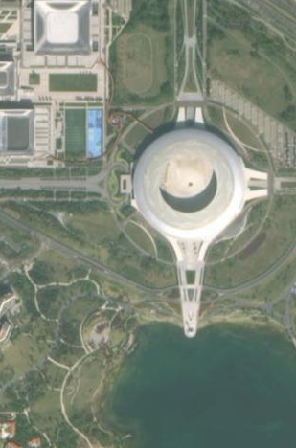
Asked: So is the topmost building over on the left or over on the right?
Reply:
left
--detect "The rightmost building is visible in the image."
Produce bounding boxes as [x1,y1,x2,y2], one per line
[120,107,268,338]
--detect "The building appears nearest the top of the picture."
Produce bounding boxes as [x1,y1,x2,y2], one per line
[34,0,91,54]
